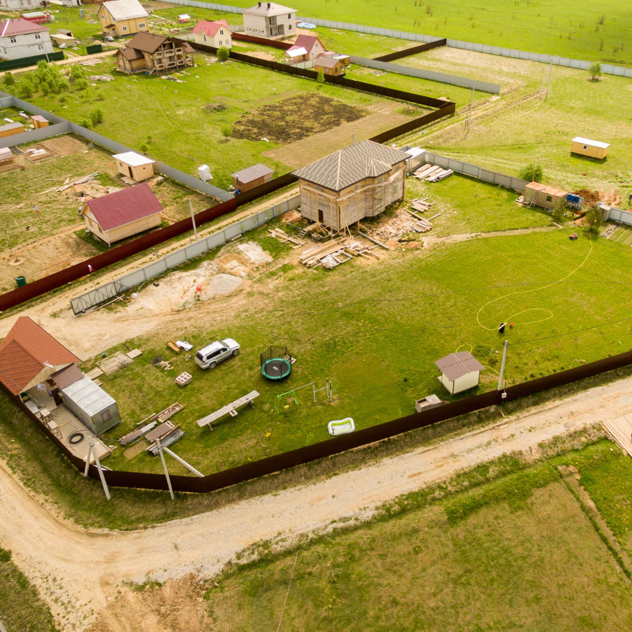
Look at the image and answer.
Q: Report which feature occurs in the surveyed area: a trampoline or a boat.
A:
trampoline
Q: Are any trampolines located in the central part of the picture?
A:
Yes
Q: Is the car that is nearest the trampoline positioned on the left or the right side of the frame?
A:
left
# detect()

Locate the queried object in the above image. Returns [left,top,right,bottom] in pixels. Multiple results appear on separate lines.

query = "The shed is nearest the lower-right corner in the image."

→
[433,352,489,396]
